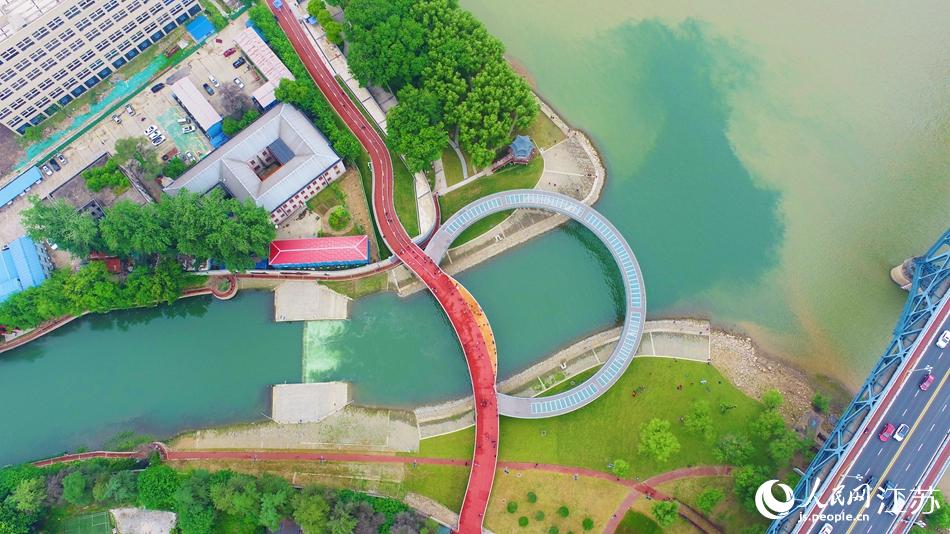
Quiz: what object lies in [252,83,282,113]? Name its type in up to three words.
shed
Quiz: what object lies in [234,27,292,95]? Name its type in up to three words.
shed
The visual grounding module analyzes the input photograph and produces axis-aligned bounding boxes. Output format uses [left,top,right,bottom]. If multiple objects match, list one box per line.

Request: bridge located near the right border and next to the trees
[759,232,950,534]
